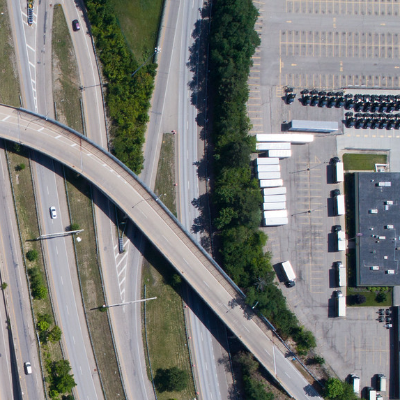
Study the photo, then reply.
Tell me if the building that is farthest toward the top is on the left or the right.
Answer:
right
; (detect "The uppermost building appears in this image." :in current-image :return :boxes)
[348,162,400,286]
